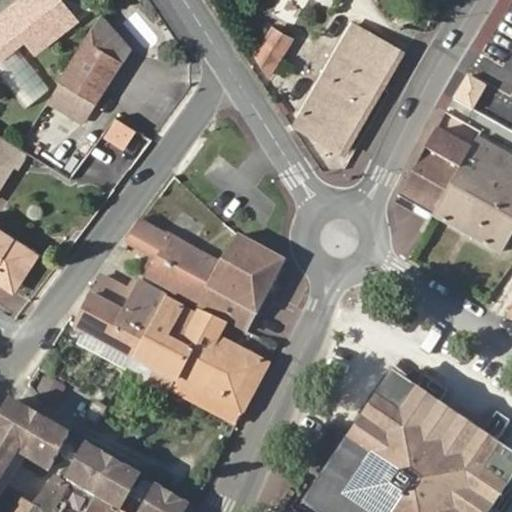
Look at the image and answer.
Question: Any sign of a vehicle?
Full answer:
Yes, the photo shows a vehicle.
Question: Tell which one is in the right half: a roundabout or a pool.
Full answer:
The feature located in the right half is a roundabout.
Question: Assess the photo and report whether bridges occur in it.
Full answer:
No, there's no bridge here.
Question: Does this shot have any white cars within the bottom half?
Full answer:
Yes, I can see a white car within the bottom half.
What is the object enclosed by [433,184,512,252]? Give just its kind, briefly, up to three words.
building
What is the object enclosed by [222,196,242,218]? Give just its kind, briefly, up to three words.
car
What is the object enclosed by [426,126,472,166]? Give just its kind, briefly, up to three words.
house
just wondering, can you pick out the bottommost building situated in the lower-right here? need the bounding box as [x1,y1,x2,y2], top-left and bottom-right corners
[302,369,512,512]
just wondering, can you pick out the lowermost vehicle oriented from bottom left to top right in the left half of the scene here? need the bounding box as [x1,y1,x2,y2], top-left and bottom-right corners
[42,327,58,349]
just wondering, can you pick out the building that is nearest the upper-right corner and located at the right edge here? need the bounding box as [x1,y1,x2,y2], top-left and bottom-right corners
[454,73,486,108]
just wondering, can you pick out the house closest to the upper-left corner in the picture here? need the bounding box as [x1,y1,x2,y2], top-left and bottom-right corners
[0,0,78,62]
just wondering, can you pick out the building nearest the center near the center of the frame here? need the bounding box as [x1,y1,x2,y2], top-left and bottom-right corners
[206,233,286,312]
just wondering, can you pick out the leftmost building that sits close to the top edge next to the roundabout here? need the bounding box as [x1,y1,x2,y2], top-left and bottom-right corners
[293,21,406,170]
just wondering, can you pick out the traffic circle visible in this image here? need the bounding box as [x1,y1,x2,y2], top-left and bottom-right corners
[290,190,390,289]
